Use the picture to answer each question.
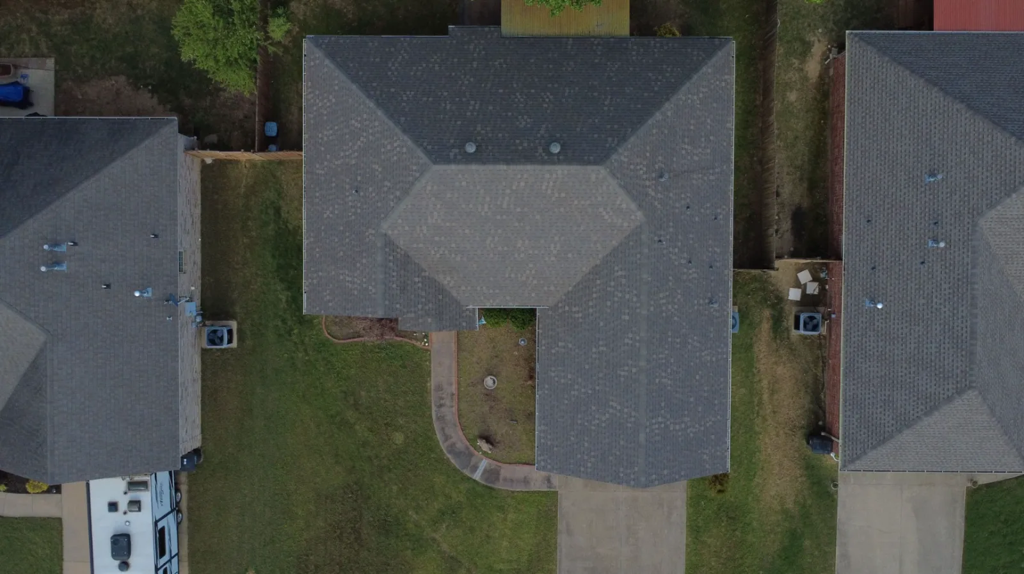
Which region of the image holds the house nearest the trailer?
left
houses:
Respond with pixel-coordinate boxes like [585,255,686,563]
[301,26,735,488]
[825,29,1024,474]
[0,115,206,484]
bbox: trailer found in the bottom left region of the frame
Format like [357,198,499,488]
[85,470,186,574]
